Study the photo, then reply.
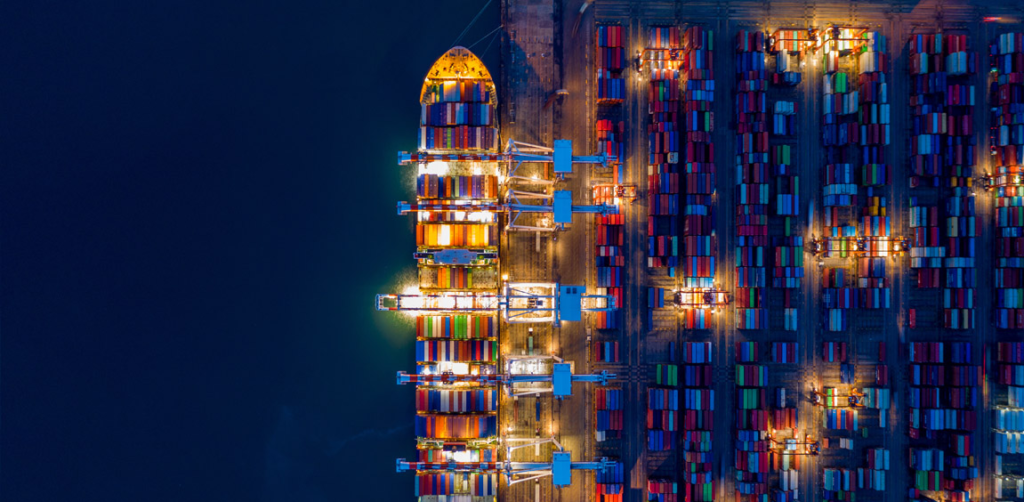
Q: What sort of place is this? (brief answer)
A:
port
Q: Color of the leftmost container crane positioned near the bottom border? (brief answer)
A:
blue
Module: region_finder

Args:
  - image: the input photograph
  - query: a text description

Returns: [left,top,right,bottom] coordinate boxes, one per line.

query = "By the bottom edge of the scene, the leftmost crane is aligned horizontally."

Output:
[396,424,617,489]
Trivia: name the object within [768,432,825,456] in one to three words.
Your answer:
container crane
